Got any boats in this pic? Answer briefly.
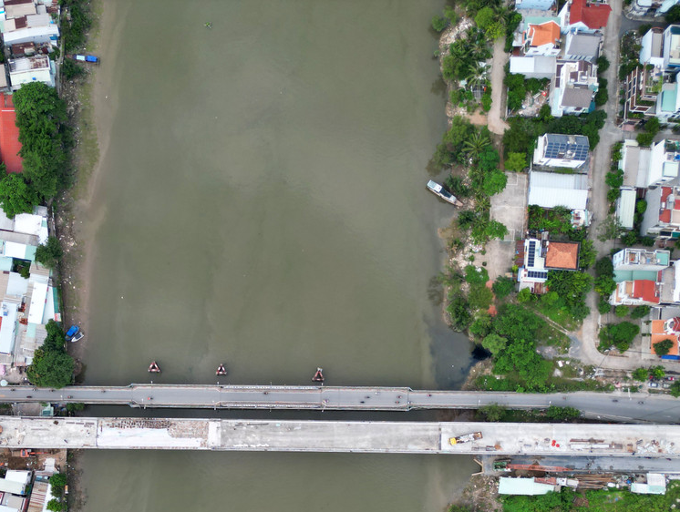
Yes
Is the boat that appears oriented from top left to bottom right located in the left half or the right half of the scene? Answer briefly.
right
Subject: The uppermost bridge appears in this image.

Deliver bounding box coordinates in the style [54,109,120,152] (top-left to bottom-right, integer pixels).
[0,383,554,411]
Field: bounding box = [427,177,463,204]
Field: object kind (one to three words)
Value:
boat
